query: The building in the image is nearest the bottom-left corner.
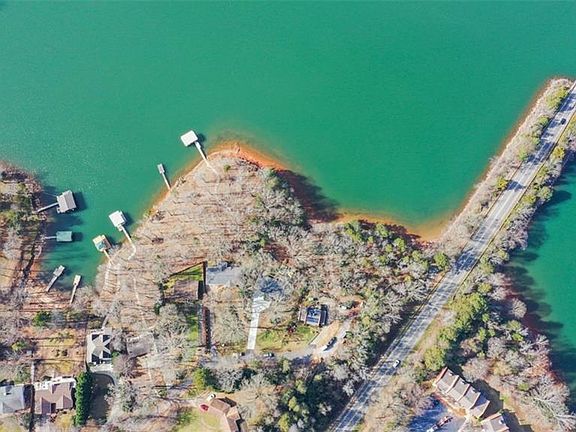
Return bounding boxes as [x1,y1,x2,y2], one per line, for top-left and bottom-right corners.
[0,384,30,415]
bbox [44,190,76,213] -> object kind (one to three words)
building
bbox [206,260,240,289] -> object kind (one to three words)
house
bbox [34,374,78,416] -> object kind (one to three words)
house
